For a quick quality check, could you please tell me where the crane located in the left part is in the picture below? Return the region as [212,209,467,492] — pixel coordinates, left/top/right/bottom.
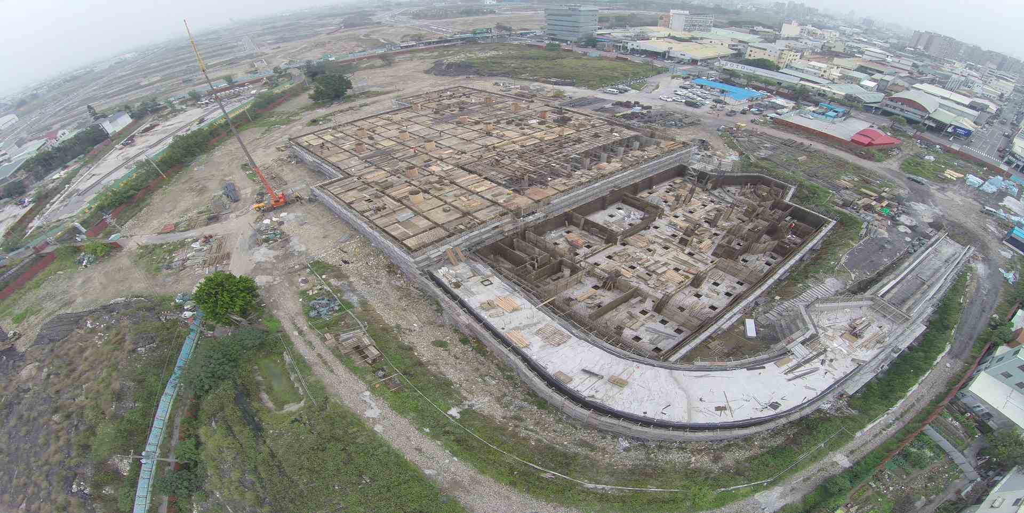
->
[183,19,291,211]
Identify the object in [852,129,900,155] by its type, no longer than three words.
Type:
building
